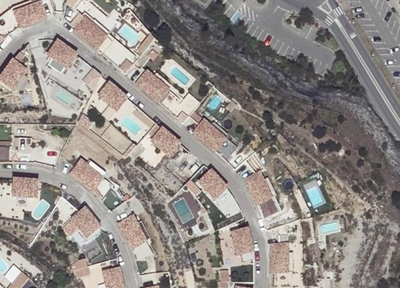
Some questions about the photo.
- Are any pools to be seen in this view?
Yes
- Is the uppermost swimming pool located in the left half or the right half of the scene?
left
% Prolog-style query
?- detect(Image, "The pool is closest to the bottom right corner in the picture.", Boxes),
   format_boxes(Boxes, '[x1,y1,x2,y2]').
[320,222,340,234]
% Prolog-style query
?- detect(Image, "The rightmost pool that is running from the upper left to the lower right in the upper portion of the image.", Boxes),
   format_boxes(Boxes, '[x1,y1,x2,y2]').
[169,66,190,86]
